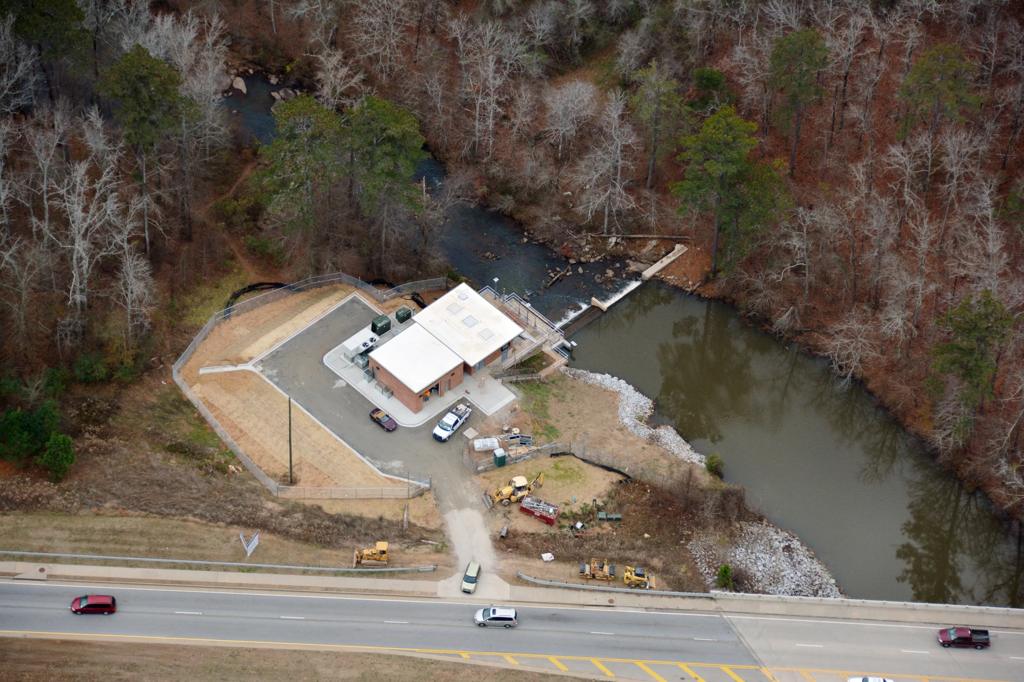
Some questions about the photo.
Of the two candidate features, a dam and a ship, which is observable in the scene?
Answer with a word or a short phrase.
dam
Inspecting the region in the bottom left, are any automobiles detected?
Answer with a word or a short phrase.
Yes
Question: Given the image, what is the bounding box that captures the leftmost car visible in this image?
[72,596,116,618]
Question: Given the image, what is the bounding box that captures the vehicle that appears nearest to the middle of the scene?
[431,402,472,439]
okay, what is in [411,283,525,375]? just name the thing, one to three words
building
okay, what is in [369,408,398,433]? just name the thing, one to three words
car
